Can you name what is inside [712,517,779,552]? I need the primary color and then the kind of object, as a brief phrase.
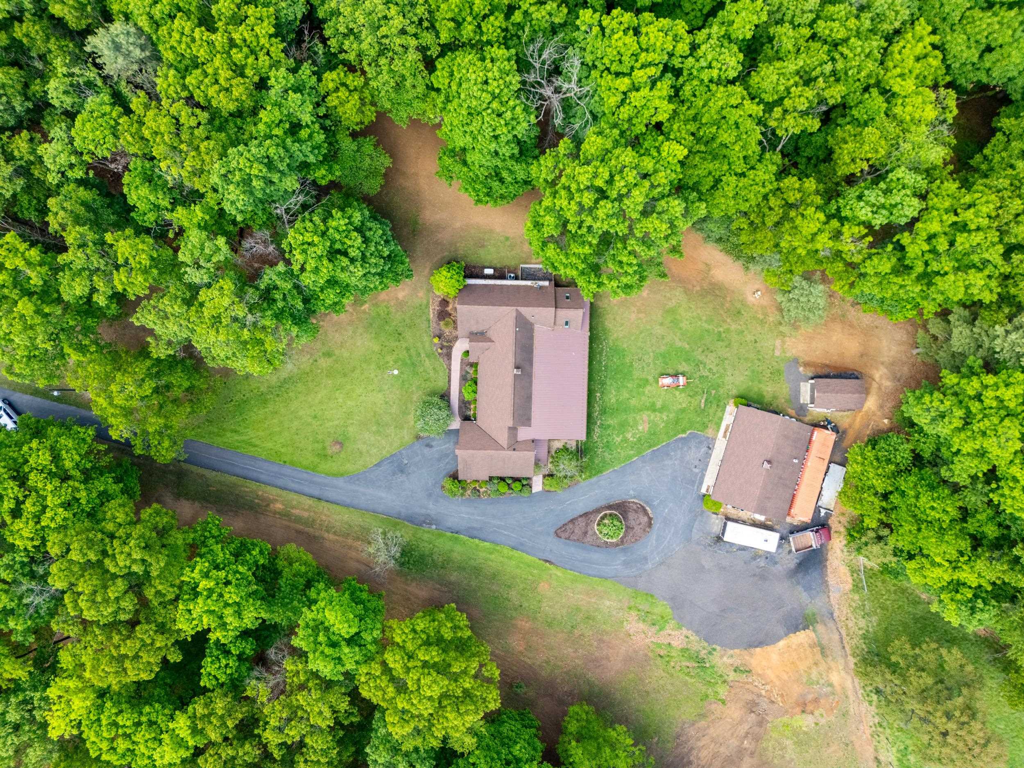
white trailer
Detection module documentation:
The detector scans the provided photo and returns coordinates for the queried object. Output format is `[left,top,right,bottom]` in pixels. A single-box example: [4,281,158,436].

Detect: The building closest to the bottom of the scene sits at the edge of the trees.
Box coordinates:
[706,405,836,523]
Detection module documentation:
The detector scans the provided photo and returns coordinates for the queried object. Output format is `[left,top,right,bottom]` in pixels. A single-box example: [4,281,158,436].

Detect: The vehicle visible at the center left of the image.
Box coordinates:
[0,400,20,429]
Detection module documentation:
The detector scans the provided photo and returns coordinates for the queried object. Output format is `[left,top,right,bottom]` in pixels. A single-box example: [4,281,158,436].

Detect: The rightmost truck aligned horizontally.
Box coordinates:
[780,524,834,553]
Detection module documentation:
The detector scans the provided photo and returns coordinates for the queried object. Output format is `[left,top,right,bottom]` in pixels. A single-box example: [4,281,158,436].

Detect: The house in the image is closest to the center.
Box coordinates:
[455,279,590,480]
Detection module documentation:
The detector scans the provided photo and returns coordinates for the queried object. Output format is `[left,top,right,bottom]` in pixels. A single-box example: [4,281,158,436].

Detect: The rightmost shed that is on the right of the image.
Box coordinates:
[800,379,865,410]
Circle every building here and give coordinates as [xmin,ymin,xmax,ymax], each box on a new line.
[800,379,865,410]
[455,279,590,480]
[706,405,836,523]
